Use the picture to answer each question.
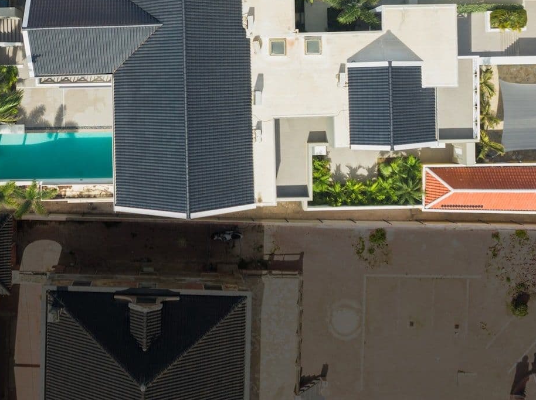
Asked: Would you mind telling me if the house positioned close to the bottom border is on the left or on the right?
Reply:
left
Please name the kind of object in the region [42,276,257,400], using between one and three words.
house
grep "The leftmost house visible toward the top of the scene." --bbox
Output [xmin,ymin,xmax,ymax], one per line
[19,0,255,221]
